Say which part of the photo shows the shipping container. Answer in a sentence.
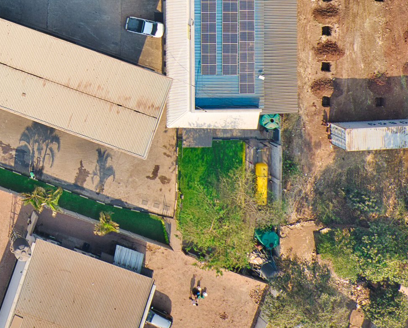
The shipping container appears toward the right of the photo.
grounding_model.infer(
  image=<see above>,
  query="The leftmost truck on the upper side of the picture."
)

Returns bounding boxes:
[121,17,165,39]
